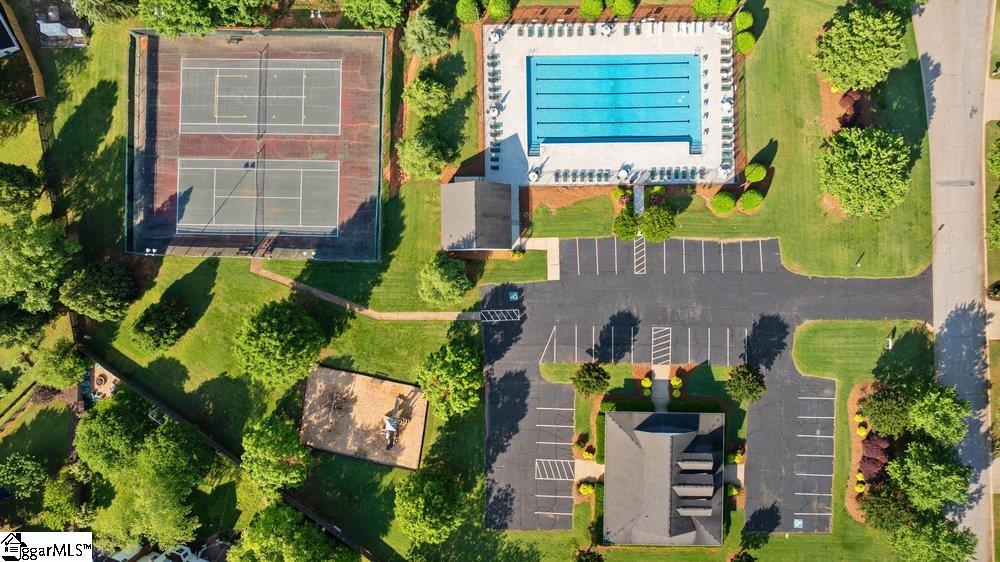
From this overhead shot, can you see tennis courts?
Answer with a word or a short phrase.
Yes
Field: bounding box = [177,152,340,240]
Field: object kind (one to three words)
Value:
tennis court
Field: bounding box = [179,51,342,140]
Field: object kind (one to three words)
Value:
tennis court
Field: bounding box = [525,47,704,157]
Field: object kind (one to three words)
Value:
swimming pool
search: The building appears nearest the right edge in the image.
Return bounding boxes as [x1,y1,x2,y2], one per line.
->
[603,411,725,546]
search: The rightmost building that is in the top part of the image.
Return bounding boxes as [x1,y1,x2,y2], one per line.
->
[441,181,512,250]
